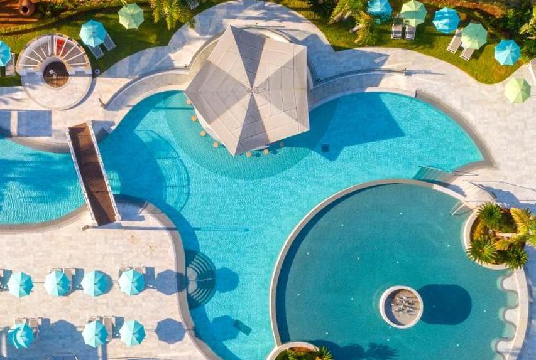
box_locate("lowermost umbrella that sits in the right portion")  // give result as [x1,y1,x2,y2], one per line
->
[502,76,529,102]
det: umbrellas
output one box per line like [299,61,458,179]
[46,269,71,294]
[84,269,108,294]
[118,267,145,294]
[8,269,35,296]
[119,320,145,346]
[401,0,425,25]
[0,42,11,67]
[82,320,110,347]
[366,0,391,22]
[118,2,145,29]
[8,322,35,348]
[81,21,107,47]
[492,40,520,66]
[431,8,457,34]
[502,76,529,102]
[461,25,485,49]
